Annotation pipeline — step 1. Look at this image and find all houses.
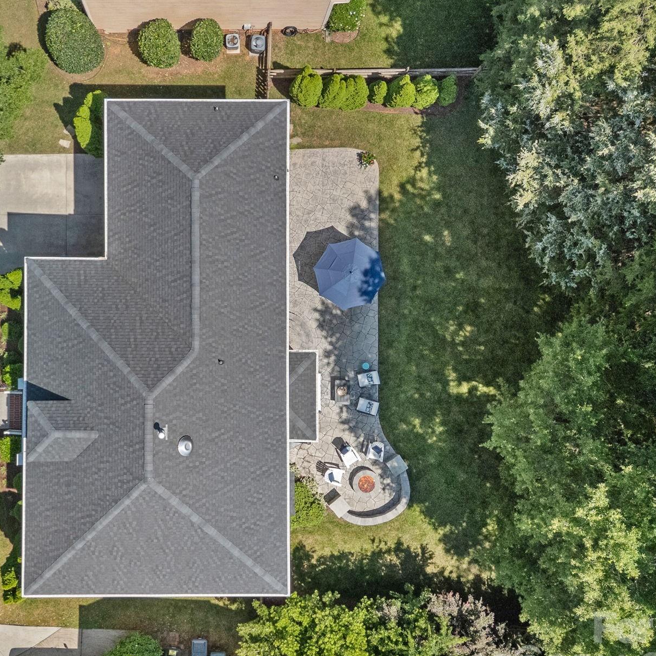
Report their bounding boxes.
[17,99,322,597]
[83,0,351,36]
